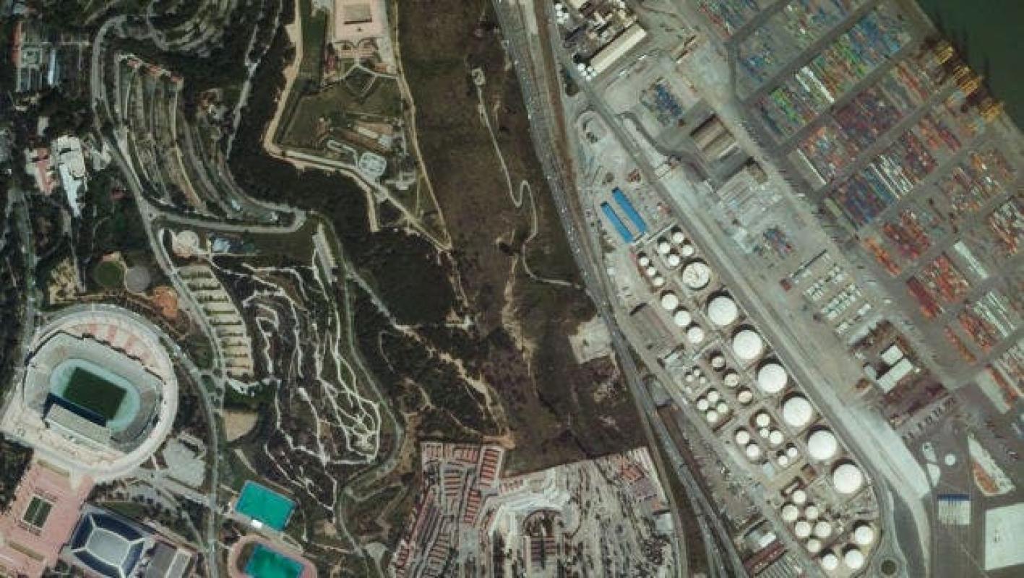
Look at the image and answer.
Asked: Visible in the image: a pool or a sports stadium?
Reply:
sports stadium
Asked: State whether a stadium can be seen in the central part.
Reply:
No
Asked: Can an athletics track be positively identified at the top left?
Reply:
No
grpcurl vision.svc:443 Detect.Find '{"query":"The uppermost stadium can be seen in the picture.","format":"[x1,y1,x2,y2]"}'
[24,331,164,447]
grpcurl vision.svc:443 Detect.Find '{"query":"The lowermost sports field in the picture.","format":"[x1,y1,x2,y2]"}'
[230,533,319,578]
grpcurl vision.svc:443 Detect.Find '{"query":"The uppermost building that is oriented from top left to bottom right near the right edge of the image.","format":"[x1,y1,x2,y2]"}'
[954,242,988,280]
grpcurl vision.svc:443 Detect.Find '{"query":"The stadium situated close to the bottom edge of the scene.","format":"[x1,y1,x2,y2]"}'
[59,504,155,578]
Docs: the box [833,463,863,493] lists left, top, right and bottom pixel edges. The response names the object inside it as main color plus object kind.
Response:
white storage tank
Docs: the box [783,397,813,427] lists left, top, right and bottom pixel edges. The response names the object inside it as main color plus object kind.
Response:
white storage tank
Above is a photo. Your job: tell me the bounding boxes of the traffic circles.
[873,552,904,578]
